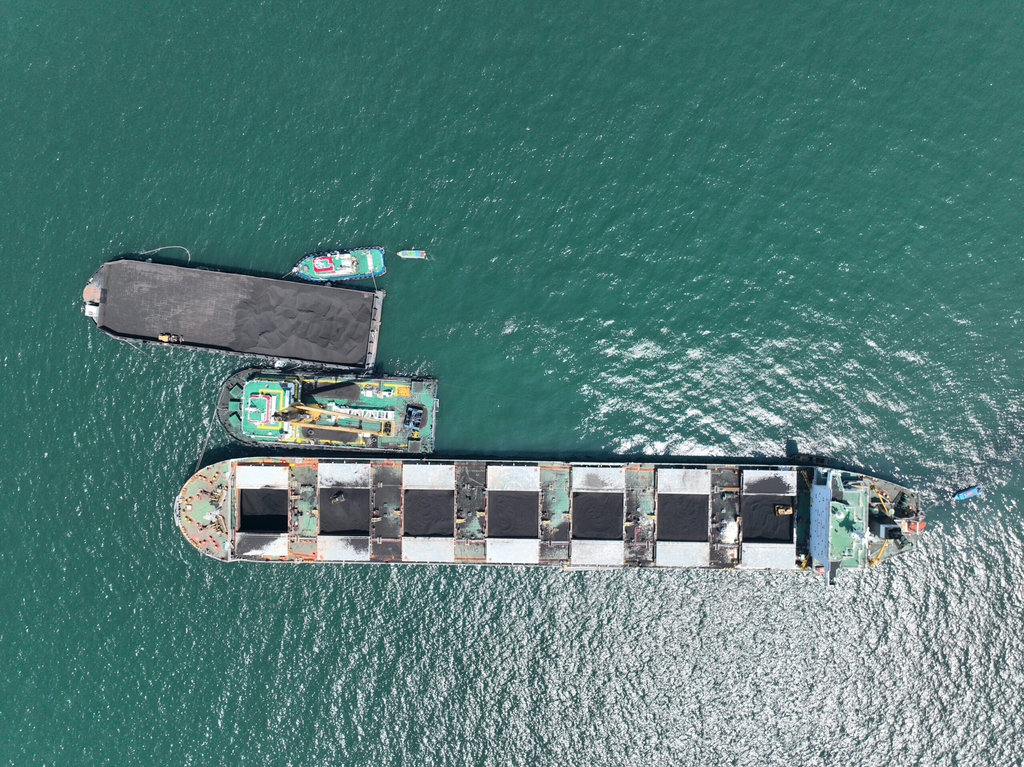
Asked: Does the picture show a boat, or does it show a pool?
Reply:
boat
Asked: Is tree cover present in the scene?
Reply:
No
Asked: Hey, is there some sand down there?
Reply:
No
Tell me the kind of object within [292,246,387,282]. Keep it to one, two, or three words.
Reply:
boat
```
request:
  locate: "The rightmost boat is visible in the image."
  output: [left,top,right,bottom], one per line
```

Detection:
[955,486,986,499]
